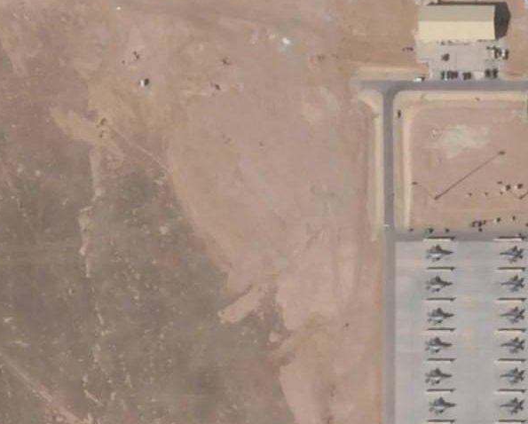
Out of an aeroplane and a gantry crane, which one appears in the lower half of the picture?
aeroplane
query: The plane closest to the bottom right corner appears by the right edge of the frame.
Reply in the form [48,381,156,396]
[500,398,521,415]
